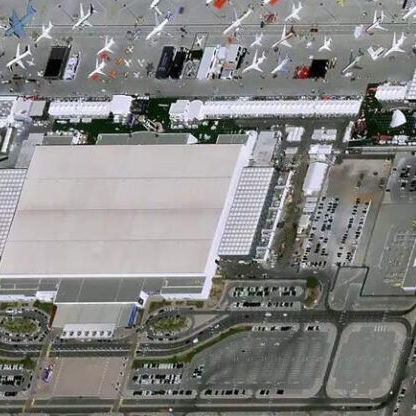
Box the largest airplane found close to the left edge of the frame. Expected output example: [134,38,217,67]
[6,2,33,35]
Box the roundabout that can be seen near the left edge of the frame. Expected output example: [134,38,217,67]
[0,309,45,342]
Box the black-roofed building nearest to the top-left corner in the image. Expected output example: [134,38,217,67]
[45,47,74,83]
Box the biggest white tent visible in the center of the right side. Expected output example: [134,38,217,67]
[303,162,332,195]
